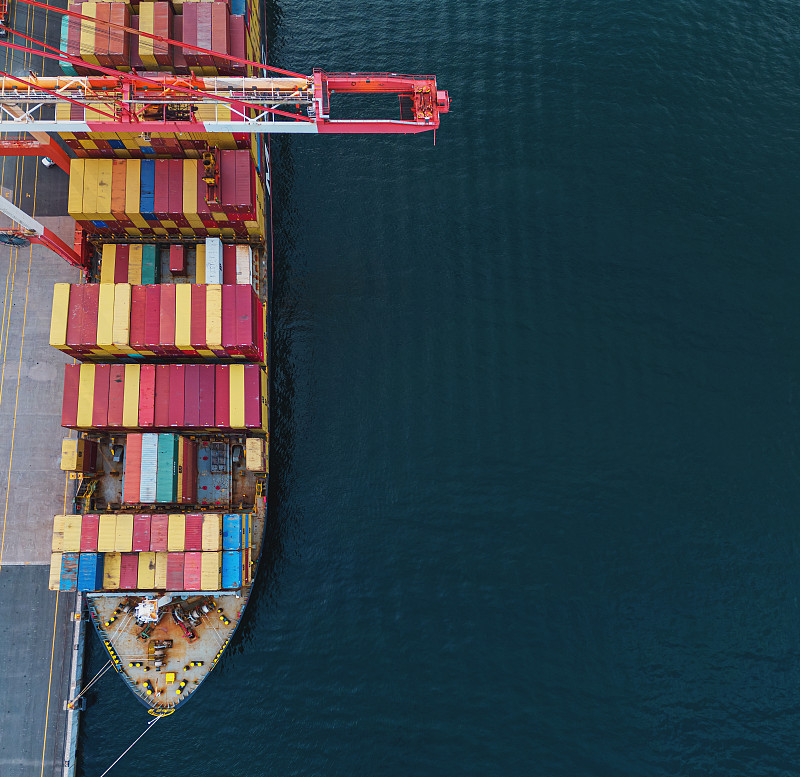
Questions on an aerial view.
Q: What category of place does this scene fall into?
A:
port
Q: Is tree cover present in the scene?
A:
No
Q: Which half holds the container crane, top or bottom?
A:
top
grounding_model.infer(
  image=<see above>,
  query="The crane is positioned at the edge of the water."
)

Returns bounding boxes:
[0,0,455,282]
